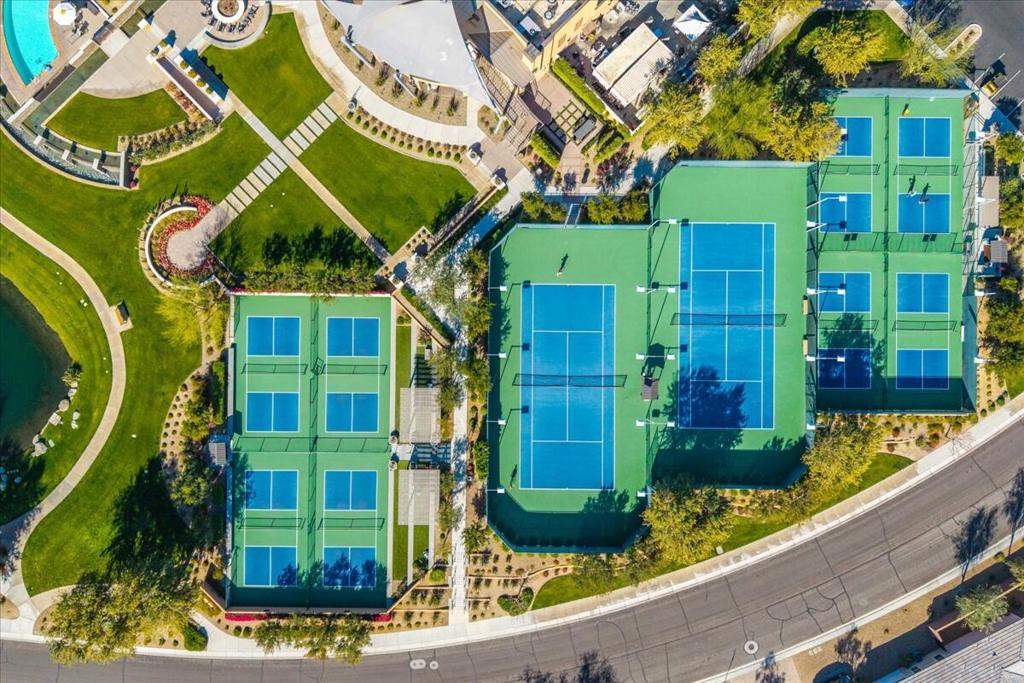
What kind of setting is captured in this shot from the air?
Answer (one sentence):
It's a sports ground.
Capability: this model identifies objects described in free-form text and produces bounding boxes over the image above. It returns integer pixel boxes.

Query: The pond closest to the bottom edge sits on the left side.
[0,279,53,454]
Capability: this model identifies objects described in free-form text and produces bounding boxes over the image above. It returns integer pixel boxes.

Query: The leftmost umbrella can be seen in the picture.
[54,3,77,25]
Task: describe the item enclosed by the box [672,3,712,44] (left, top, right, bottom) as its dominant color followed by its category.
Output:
white umbrella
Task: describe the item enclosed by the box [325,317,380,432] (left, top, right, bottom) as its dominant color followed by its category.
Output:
blue sports court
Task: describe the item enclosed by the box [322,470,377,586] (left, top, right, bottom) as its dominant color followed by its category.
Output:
blue sports court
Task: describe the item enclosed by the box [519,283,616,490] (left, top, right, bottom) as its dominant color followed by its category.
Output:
blue tennis court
